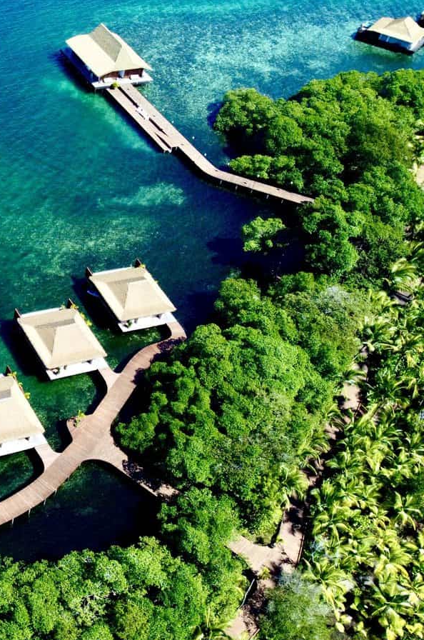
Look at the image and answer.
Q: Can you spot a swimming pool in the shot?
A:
No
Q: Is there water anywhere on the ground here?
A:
Yes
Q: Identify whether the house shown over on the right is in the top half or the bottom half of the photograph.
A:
top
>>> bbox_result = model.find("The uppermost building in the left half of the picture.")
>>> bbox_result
[64,25,154,94]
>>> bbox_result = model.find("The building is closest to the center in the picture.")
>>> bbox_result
[84,262,175,338]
